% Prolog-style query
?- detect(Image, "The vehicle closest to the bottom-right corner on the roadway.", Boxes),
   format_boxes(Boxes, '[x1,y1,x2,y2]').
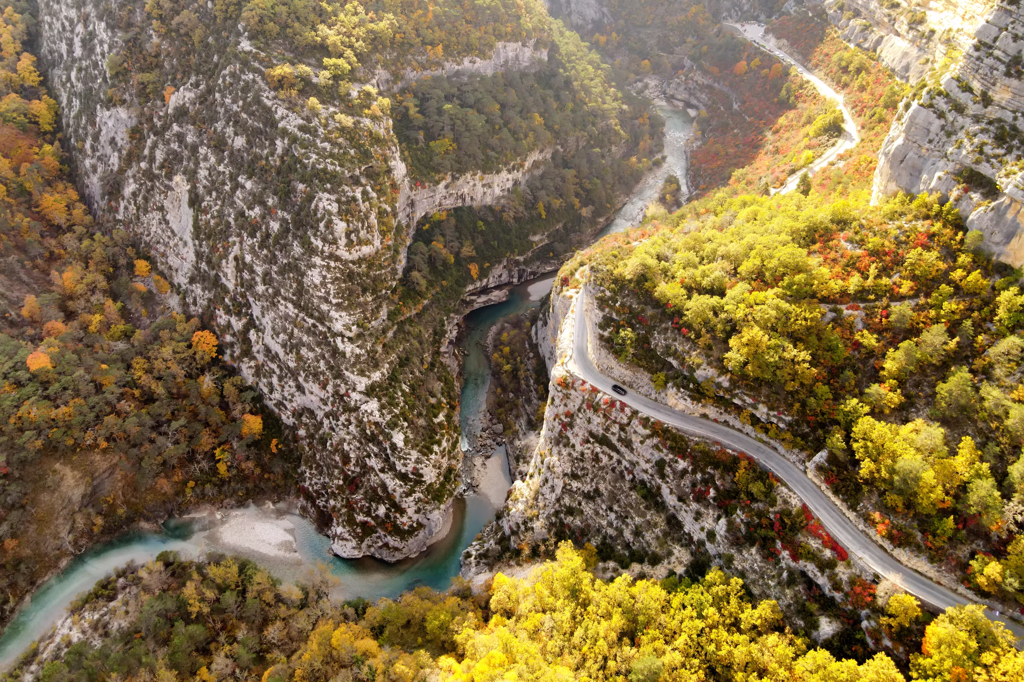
[611,384,628,396]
